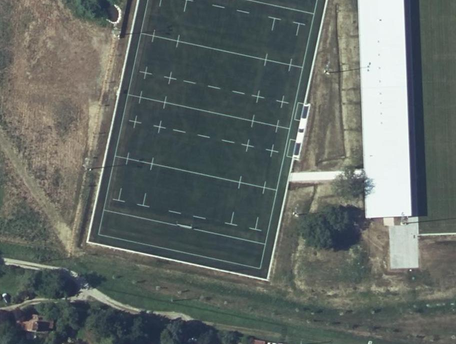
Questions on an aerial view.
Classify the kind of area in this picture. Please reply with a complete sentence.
It's a sports ground.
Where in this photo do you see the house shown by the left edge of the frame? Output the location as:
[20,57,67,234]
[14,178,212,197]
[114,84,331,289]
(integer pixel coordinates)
[22,314,54,334]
